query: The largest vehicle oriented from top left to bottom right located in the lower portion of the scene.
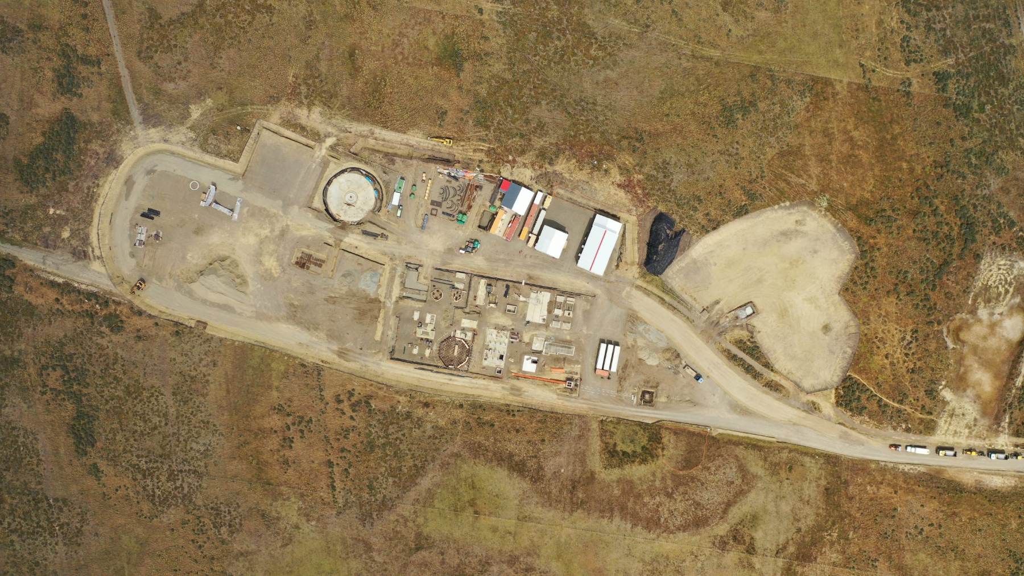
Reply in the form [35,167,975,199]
[684,365,704,383]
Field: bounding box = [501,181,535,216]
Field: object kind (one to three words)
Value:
building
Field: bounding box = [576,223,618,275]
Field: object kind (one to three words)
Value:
shed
